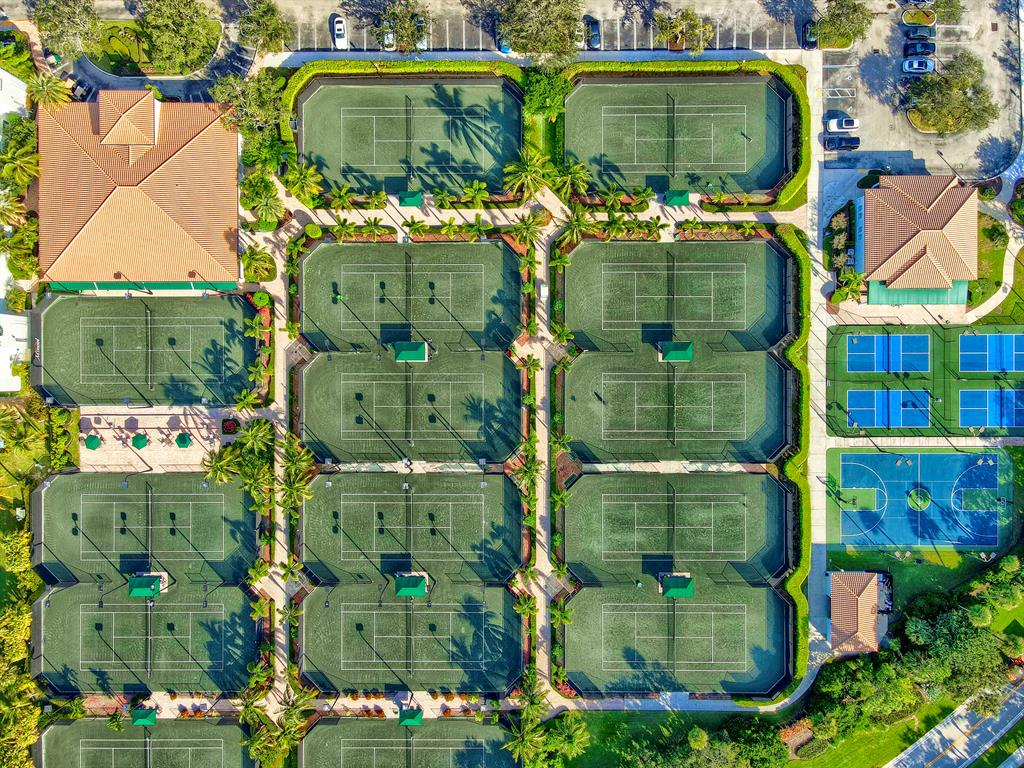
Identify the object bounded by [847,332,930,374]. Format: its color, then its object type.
blue sports court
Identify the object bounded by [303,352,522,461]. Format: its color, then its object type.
green tennis court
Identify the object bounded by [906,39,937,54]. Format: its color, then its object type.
blue car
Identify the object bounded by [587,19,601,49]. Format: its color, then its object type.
blue car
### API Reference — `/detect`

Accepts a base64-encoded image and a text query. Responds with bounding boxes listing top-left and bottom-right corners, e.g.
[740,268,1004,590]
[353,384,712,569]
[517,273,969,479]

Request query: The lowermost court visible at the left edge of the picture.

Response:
[42,717,254,768]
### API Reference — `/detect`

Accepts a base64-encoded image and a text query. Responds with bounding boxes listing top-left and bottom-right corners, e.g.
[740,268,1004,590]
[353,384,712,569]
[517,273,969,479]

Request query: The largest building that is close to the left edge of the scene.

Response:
[38,89,248,292]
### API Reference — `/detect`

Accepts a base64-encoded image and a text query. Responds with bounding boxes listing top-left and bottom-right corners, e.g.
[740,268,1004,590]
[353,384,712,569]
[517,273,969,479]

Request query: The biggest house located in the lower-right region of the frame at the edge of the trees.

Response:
[827,572,878,650]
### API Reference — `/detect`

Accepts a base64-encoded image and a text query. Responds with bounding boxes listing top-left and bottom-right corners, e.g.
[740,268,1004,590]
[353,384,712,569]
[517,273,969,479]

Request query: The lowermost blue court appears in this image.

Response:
[826,448,1013,552]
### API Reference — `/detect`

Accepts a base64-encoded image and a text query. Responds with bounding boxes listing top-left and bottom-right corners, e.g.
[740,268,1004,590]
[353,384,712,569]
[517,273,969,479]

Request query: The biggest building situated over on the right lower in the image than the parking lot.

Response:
[852,175,978,305]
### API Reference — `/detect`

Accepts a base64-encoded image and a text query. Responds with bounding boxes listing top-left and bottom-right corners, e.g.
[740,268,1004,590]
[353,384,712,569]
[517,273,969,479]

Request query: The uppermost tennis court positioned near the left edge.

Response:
[42,295,254,405]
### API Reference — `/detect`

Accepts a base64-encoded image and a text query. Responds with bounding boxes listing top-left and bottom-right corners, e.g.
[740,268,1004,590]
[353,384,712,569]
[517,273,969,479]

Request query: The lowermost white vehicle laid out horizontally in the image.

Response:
[828,116,859,131]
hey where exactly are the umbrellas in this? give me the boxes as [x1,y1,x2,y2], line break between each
[131,434,148,449]
[84,434,102,449]
[175,433,192,448]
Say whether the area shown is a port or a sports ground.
sports ground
